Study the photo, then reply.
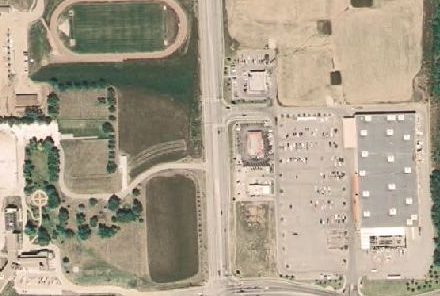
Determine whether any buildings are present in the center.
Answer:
Yes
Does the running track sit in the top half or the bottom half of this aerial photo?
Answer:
top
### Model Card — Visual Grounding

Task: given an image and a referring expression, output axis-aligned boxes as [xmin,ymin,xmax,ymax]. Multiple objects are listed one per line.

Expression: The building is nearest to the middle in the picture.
[247,131,264,157]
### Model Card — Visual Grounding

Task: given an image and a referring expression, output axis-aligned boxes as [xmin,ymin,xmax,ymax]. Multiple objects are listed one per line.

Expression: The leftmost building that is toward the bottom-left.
[6,207,22,235]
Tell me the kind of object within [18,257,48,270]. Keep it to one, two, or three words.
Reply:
building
